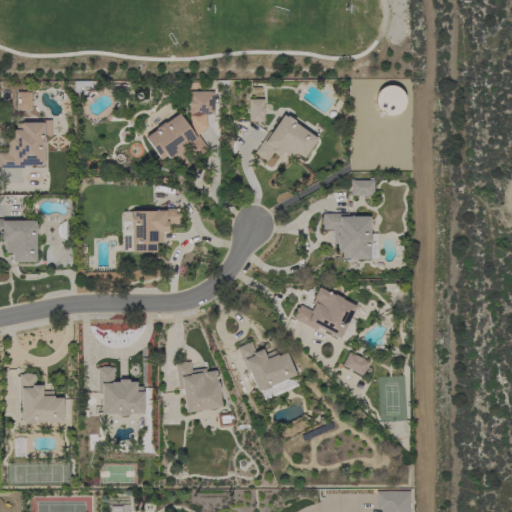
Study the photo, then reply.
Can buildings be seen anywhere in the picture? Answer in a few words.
Yes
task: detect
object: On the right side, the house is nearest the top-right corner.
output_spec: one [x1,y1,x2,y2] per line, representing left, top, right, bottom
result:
[353,179,376,197]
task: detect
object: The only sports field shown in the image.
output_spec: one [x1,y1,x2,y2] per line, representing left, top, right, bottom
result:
[0,0,384,58]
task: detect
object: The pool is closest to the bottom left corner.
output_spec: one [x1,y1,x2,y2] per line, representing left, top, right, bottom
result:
[34,436,57,452]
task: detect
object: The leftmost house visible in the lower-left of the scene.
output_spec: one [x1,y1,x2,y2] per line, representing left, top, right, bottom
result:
[20,374,65,424]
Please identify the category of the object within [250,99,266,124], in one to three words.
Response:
building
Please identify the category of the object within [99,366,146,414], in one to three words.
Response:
house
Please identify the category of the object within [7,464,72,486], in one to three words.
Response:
tennis court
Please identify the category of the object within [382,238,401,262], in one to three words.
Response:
swimming pool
